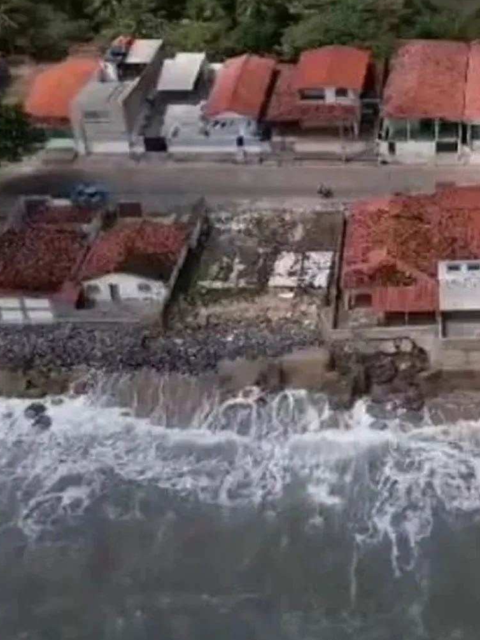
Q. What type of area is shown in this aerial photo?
residential area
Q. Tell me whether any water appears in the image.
Yes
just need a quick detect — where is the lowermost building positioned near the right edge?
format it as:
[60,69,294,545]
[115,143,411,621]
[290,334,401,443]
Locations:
[325,181,480,341]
